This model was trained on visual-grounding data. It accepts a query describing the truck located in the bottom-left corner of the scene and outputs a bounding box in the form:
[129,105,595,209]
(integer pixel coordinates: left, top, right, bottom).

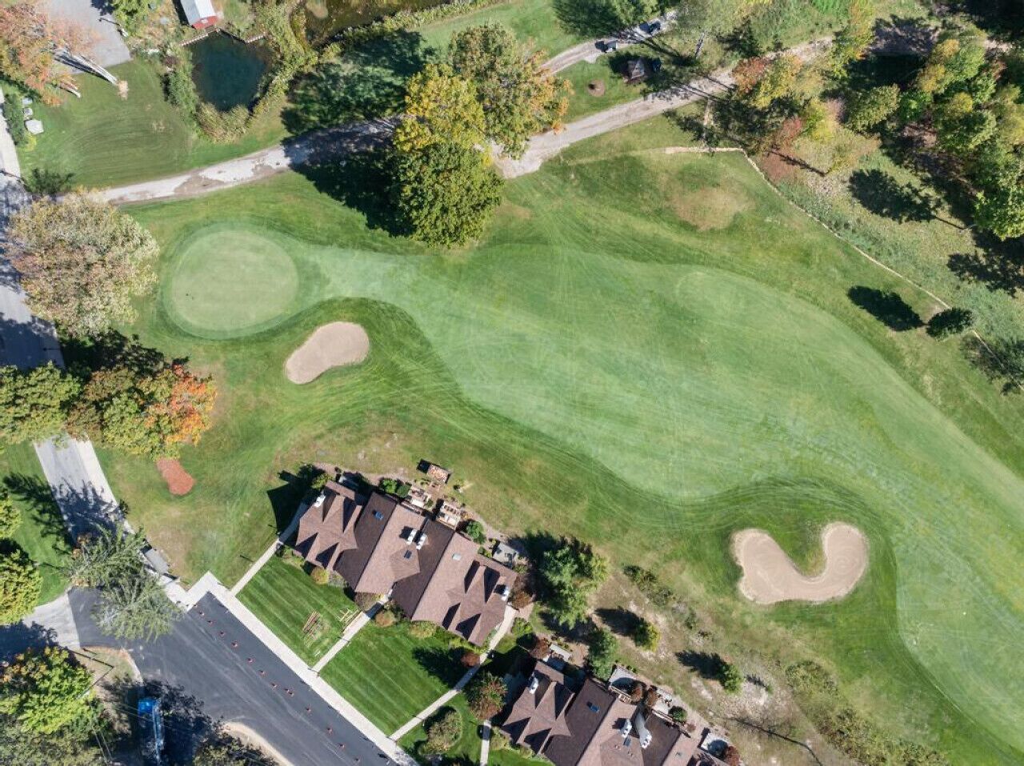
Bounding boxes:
[136,693,165,766]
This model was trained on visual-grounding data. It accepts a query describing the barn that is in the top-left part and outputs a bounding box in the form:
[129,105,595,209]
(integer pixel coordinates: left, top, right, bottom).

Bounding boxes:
[179,0,218,29]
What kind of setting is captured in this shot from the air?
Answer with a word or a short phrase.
golf course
